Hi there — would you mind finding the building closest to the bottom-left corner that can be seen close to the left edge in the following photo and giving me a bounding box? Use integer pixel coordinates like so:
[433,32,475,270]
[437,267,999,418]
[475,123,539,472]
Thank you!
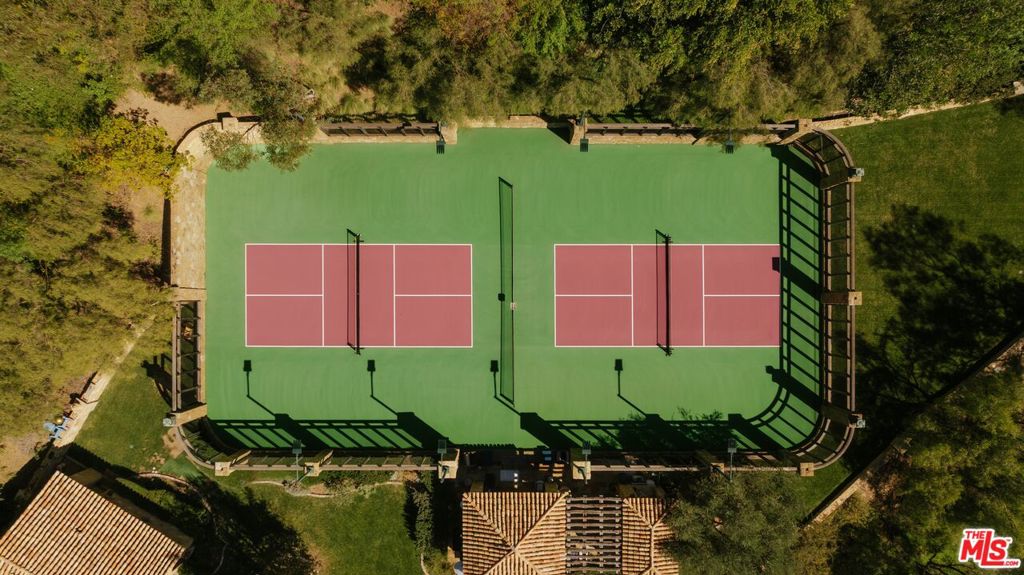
[0,466,205,575]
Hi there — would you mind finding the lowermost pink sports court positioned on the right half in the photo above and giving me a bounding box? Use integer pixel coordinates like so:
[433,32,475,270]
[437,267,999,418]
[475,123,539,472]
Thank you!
[553,244,781,348]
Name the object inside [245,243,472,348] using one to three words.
sports court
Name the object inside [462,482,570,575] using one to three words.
building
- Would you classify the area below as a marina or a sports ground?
sports ground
